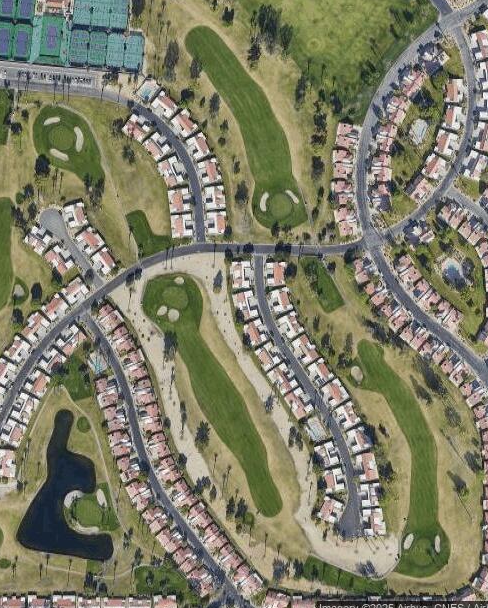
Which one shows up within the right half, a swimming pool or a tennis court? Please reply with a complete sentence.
Looking within the right half, you will find a swimming pool.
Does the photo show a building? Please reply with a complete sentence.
Yes, a building is visible in the scene.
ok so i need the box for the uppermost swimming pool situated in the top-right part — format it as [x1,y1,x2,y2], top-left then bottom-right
[411,119,427,143]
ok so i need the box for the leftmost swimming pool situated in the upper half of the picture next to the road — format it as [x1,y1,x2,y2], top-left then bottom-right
[137,79,160,102]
